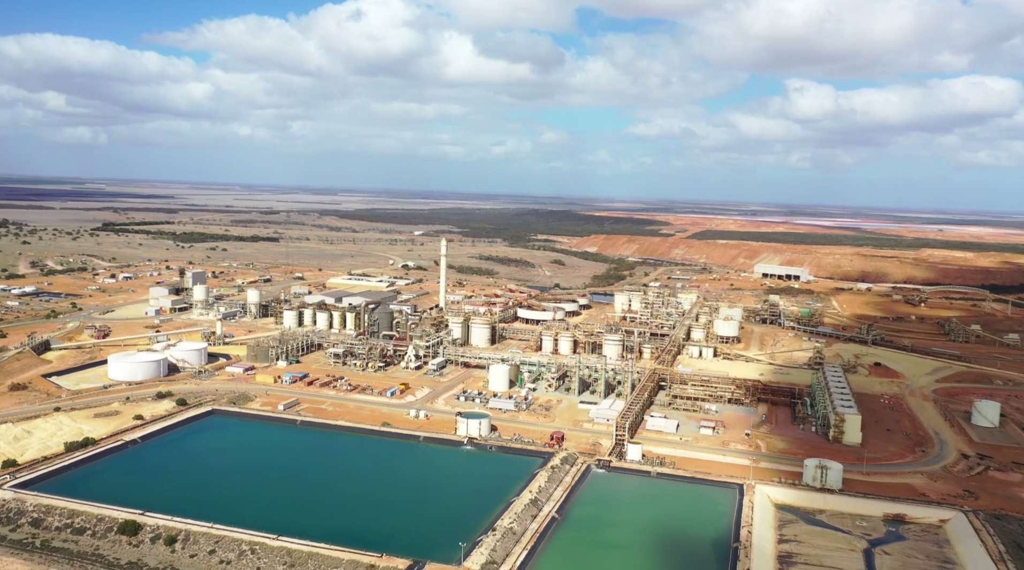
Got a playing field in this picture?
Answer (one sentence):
No, there is no playing field in the image.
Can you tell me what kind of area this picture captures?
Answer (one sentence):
This looks like an industrial area.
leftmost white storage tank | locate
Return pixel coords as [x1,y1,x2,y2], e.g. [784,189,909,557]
[103,347,169,382]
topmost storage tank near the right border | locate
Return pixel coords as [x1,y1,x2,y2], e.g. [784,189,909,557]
[970,396,1007,429]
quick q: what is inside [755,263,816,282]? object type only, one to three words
shed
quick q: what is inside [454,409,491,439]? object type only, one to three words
storage tank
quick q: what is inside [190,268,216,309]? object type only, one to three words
building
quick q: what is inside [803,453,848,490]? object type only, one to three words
storage tank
